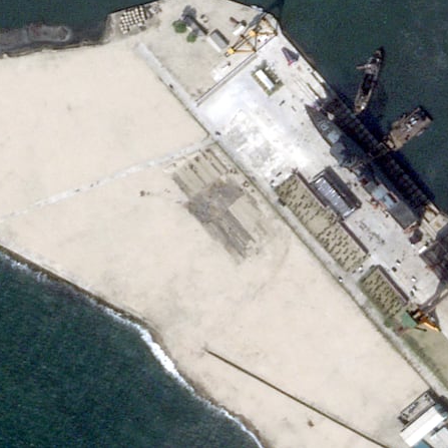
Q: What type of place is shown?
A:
port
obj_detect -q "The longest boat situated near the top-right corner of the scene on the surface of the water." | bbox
[357,48,384,112]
